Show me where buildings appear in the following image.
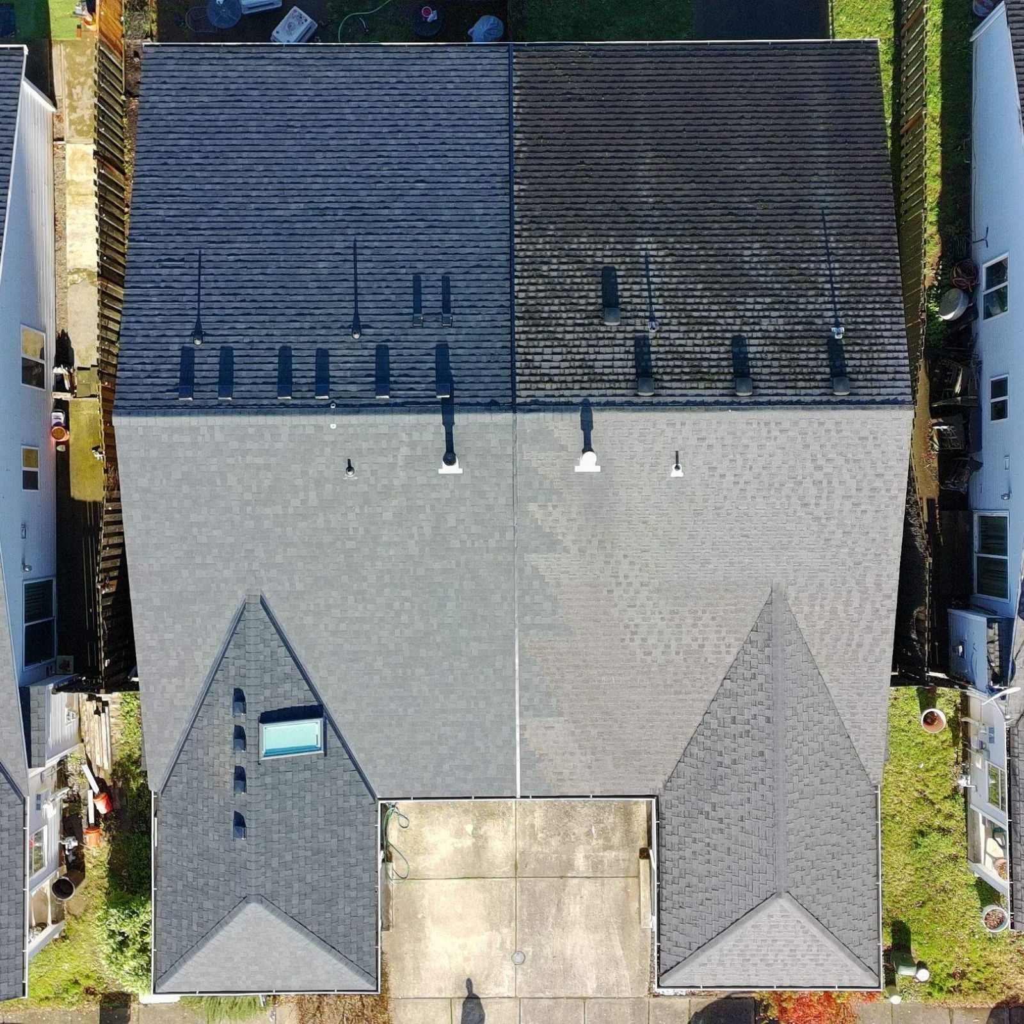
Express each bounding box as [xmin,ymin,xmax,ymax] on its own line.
[0,42,81,998]
[945,0,1024,927]
[114,36,914,997]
